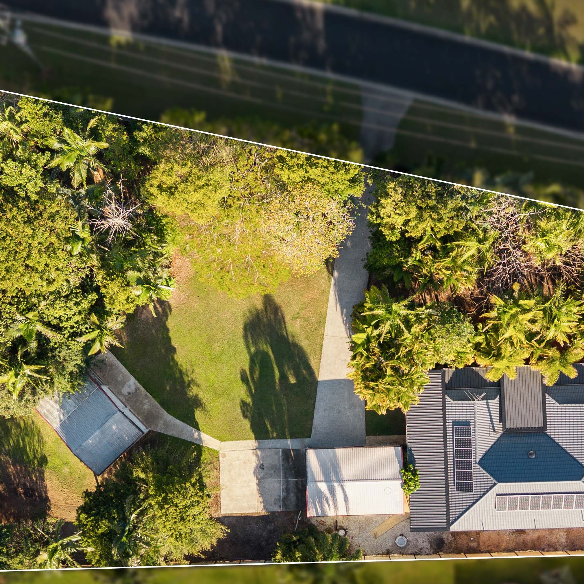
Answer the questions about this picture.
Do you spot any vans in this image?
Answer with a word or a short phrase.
No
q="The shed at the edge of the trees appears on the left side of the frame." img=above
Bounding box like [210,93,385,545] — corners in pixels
[36,365,149,474]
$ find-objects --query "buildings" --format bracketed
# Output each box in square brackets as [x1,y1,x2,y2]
[306,444,405,517]
[406,363,584,534]
[36,365,149,474]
